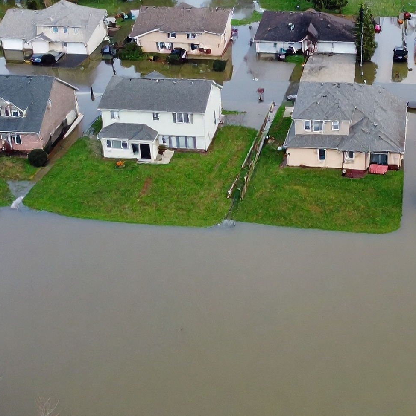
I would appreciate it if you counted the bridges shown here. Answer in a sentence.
There are no bridges in the image.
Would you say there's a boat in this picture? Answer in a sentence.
No, there appears to be no boat in this shot.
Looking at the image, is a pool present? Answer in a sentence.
No, the scene contains no pool.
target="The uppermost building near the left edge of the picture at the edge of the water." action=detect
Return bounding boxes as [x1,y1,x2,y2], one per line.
[0,3,105,63]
